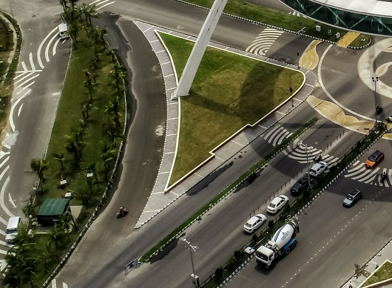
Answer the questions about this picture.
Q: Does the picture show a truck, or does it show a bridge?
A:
truck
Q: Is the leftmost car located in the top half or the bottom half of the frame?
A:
bottom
